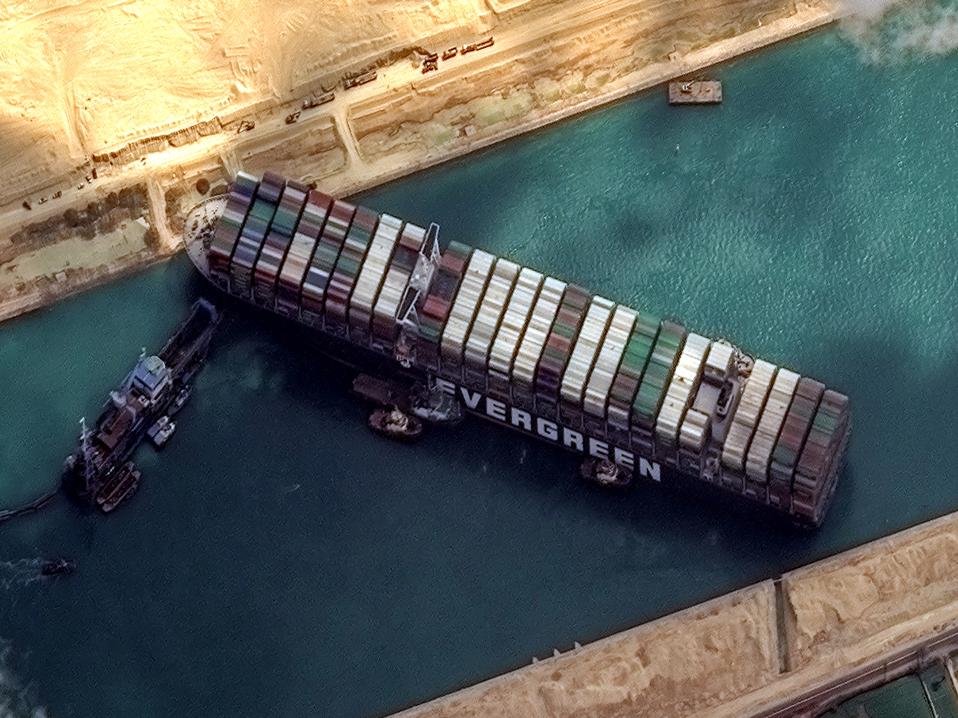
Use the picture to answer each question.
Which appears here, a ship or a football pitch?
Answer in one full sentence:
Looking from above, you can make out a ship.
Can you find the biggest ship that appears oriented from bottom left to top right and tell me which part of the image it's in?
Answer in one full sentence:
The biggest ship that appears oriented from bottom left to top right is in the left part of the image.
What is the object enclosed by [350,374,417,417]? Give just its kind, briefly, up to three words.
ship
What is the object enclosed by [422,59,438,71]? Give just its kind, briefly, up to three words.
vehicle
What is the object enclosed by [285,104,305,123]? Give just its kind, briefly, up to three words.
work vehicle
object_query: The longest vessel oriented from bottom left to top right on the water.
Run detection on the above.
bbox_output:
[65,296,217,505]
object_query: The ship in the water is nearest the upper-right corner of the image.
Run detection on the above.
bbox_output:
[669,78,722,106]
